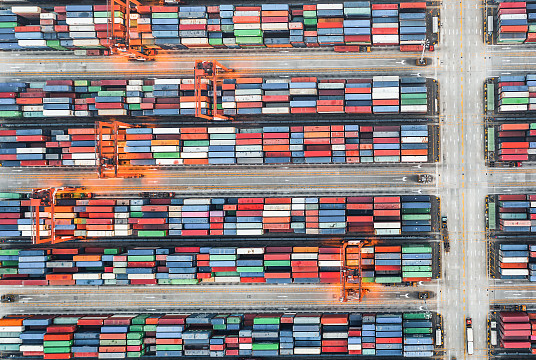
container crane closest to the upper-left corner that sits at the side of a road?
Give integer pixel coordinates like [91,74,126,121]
[106,0,157,60]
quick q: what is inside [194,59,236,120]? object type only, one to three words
container crane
